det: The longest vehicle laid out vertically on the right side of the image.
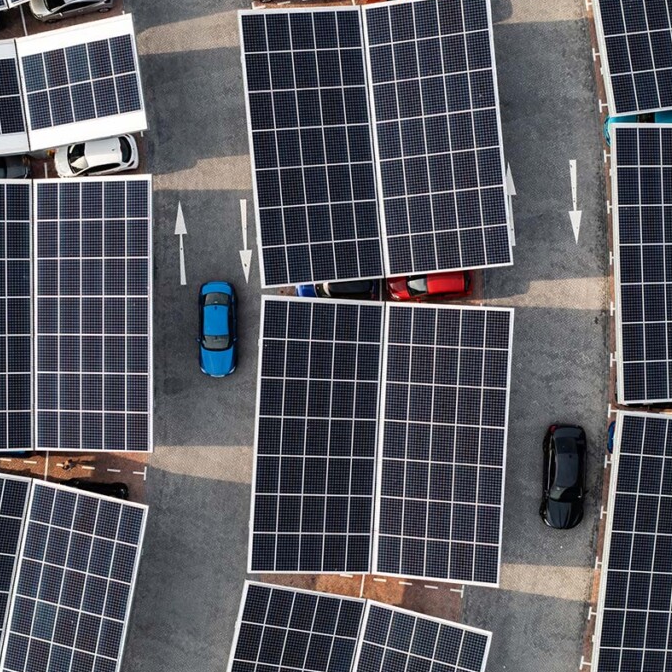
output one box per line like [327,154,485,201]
[543,424,590,529]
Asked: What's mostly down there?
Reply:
buildings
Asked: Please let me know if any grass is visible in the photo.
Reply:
No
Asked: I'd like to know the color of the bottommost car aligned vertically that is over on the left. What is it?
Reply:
blue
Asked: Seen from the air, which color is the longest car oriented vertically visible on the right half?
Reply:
black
